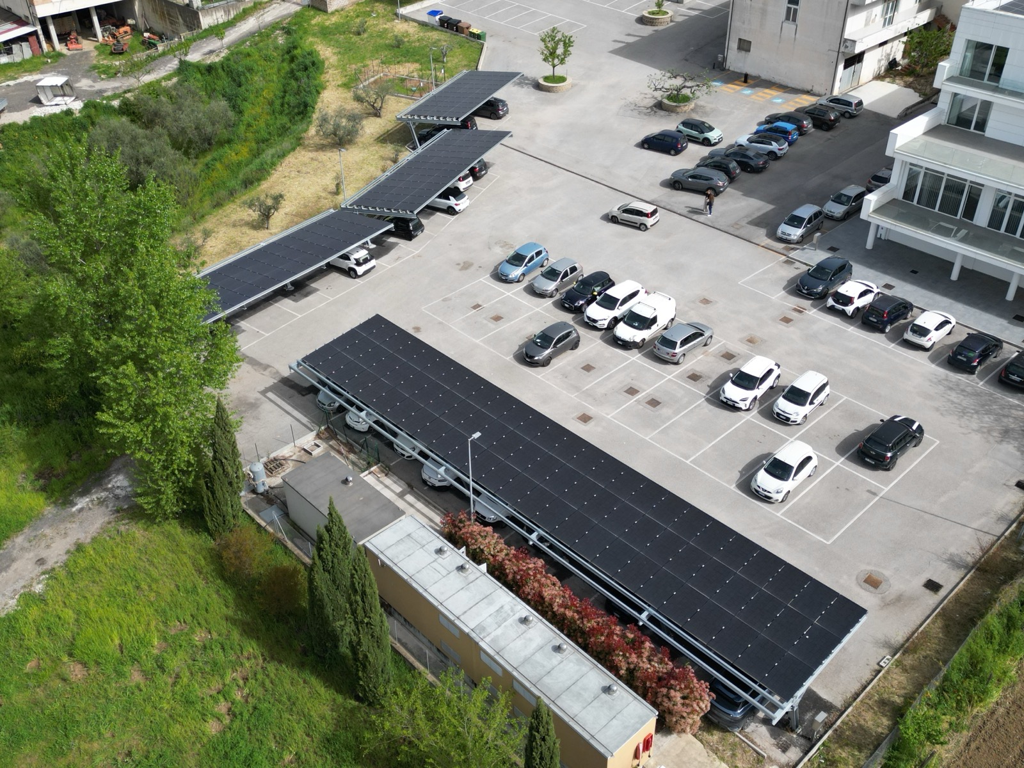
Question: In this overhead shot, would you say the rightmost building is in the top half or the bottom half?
top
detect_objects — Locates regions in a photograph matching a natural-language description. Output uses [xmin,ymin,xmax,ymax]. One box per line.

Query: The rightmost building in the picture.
[863,0,1024,300]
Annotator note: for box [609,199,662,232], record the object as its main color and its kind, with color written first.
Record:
white car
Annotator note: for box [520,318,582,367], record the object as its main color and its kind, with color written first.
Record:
gray car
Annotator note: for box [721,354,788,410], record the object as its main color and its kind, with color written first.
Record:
white car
